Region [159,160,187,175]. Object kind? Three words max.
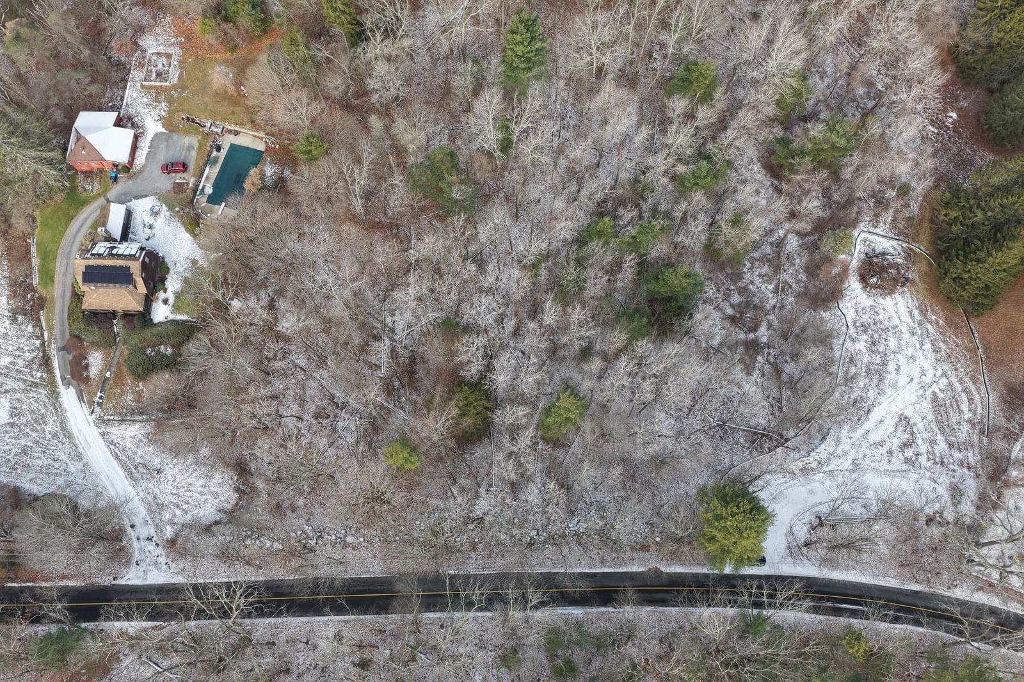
car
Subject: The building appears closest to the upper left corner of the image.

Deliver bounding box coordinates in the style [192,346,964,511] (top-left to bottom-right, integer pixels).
[65,111,141,173]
